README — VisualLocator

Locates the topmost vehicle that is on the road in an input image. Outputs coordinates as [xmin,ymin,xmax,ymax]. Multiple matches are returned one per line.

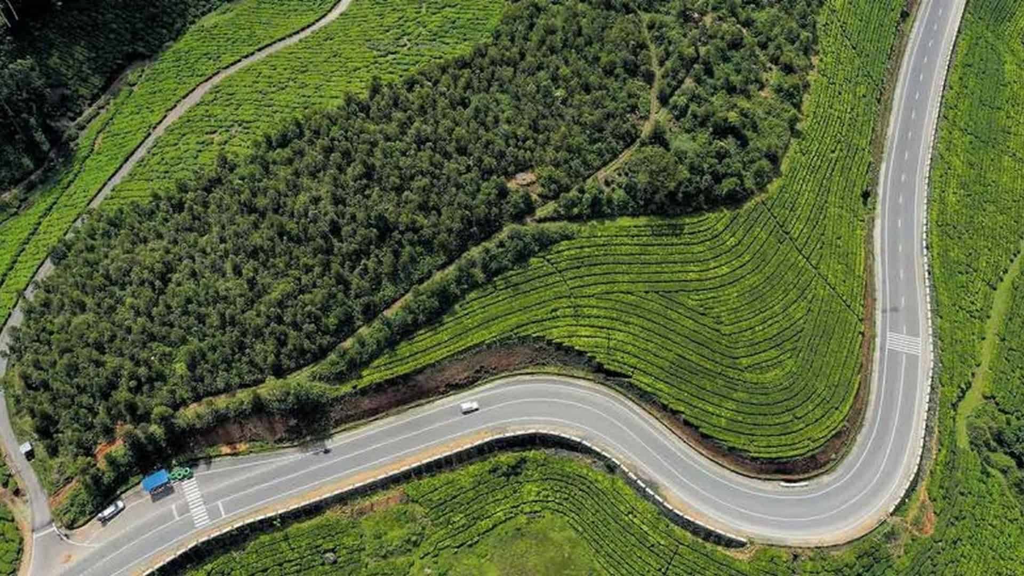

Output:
[461,403,480,416]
